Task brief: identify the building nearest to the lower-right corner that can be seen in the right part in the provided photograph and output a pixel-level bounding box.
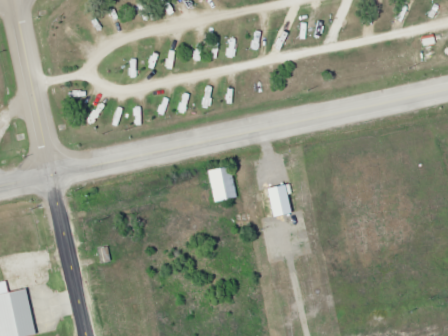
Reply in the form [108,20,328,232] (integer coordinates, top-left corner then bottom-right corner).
[266,184,292,218]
